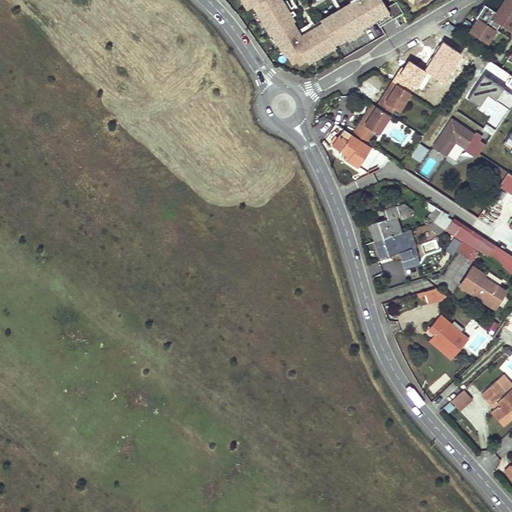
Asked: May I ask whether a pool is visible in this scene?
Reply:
Yes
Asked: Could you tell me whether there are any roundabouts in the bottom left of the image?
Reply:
No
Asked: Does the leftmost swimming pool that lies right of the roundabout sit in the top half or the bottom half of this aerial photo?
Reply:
top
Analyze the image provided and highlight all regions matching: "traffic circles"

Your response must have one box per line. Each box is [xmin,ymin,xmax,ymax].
[238,57,327,191]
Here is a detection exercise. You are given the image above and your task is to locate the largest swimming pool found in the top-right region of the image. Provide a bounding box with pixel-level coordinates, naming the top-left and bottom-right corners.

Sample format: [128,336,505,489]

[378,120,414,147]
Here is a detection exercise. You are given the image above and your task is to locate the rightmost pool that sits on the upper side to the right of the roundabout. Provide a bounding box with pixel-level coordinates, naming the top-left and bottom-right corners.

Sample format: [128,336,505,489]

[420,157,438,176]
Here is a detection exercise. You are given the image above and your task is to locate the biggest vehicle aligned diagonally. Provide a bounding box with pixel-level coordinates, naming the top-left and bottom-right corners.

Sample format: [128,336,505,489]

[406,386,426,409]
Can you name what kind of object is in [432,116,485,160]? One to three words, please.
house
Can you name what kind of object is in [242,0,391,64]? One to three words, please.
building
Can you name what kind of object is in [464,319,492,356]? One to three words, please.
swimming pool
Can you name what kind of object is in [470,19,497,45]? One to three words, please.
house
